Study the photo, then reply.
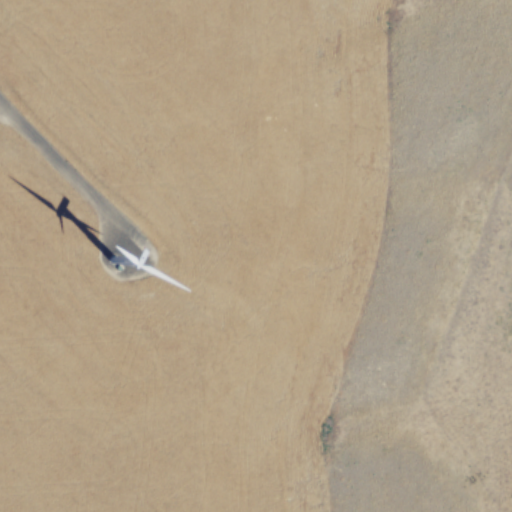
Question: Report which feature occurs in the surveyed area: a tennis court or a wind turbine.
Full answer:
The image shows a wind turbine.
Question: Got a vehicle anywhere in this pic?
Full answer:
No, the picture doesn't show any vehicle.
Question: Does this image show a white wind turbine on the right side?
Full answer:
No, there is no white wind turbine on the right side.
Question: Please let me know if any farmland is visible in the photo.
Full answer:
Yes, there is farmland in the image.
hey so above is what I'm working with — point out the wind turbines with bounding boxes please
[108,244,193,292]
